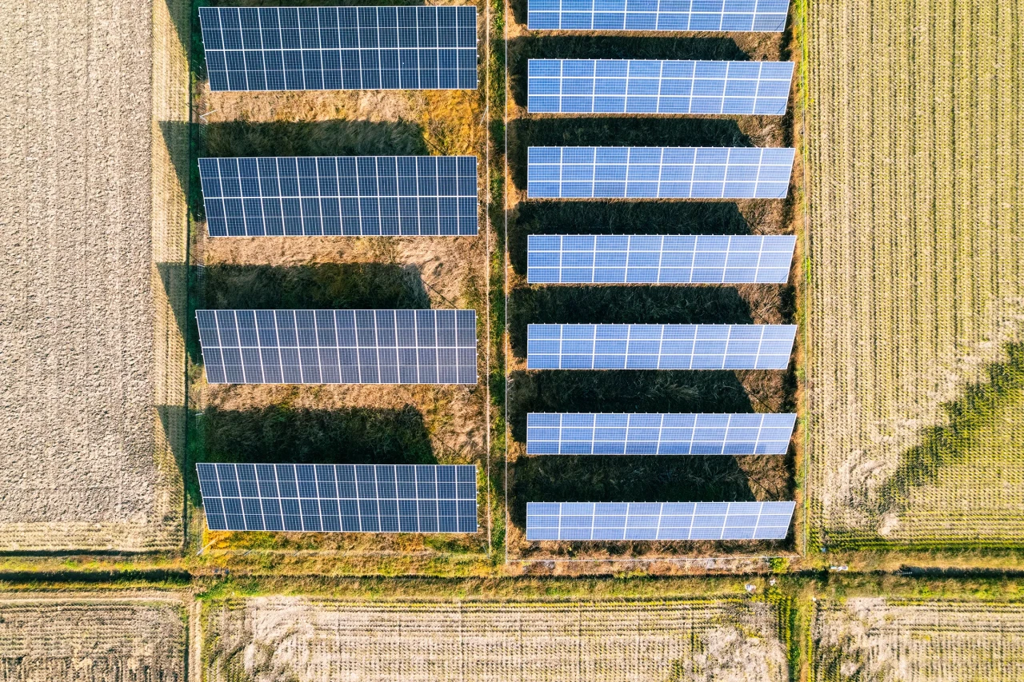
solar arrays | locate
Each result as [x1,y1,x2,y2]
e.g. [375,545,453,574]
[196,311,479,384]
[527,0,791,32]
[527,497,795,540]
[528,323,796,369]
[198,462,479,532]
[528,145,796,198]
[198,6,481,91]
[528,234,796,284]
[528,411,796,455]
[528,57,796,115]
[198,157,480,236]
